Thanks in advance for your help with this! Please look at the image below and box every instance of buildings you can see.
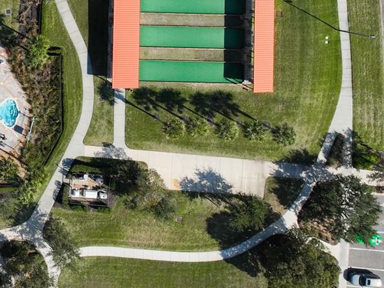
[245,0,275,93]
[108,0,140,89]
